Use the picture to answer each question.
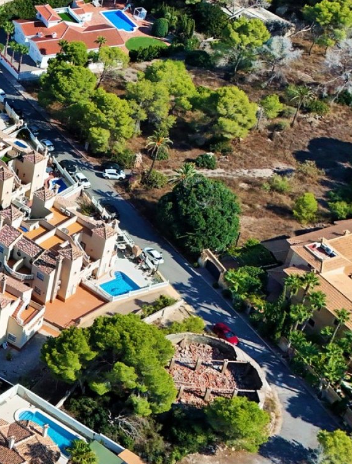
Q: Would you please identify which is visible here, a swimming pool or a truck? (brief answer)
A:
swimming pool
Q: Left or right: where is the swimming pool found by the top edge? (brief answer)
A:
left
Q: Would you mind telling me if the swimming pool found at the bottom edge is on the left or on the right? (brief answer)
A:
left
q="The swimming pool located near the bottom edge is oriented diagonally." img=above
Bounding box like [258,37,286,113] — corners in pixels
[16,407,76,458]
